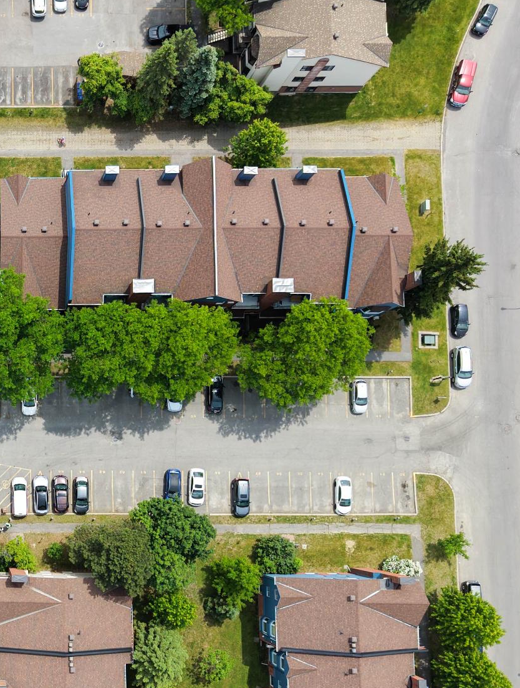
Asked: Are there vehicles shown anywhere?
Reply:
Yes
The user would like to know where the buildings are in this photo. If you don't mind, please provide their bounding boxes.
[0,155,423,326]
[257,561,431,688]
[0,561,134,688]
[206,0,393,102]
